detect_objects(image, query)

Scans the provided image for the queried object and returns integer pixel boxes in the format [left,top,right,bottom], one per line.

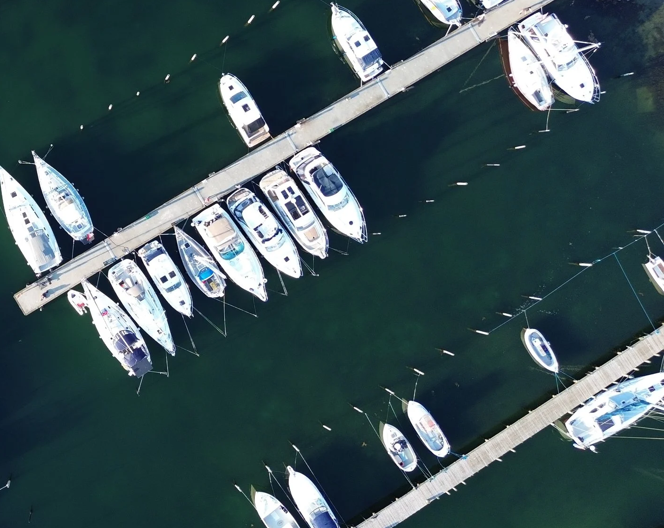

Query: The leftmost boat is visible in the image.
[0,164,62,274]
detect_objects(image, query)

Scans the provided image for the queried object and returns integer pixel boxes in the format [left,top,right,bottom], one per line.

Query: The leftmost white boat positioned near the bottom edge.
[253,489,298,528]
